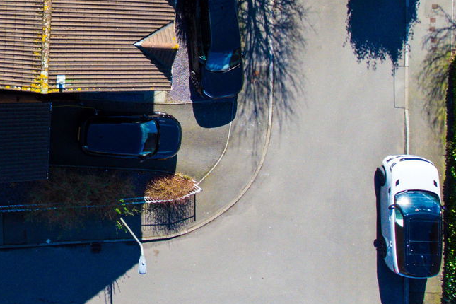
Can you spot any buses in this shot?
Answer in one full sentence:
No, I can see no bus in this picture.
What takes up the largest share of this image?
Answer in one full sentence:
The scene is dominated by paved ground.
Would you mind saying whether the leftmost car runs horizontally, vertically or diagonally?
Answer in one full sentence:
In this picture, the leftmost car lies horizontally.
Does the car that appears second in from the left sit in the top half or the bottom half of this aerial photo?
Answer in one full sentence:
The top half of the photo is where the car that appears second in from the left is.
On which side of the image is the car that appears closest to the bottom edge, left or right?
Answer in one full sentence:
The car that appears closest to the bottom edge appears in the right half of the scene.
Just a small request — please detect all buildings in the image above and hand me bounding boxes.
[0,0,181,94]
[0,97,54,182]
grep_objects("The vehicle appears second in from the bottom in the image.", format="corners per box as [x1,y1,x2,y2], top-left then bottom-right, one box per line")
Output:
[77,111,182,168]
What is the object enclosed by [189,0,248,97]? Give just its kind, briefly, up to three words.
car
